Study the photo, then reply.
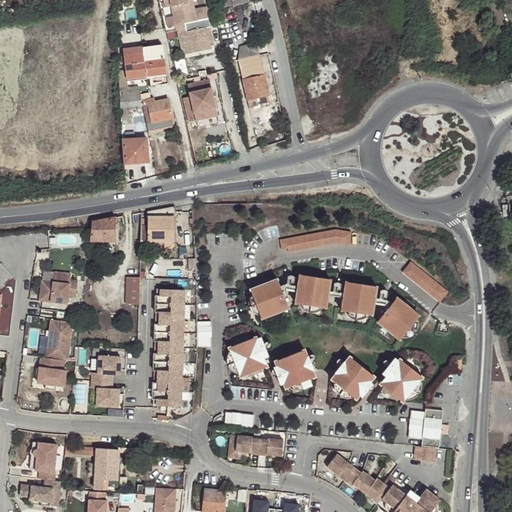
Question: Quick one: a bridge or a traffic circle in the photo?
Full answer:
It is a traffic circle that can be seen here.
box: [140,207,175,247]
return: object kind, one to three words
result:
house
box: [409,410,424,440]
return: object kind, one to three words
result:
building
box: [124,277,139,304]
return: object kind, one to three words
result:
shed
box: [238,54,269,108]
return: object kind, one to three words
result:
house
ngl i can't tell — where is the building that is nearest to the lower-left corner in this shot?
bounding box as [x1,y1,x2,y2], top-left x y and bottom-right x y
[19,482,60,512]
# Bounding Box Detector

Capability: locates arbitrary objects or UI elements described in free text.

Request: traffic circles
[357,80,500,222]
